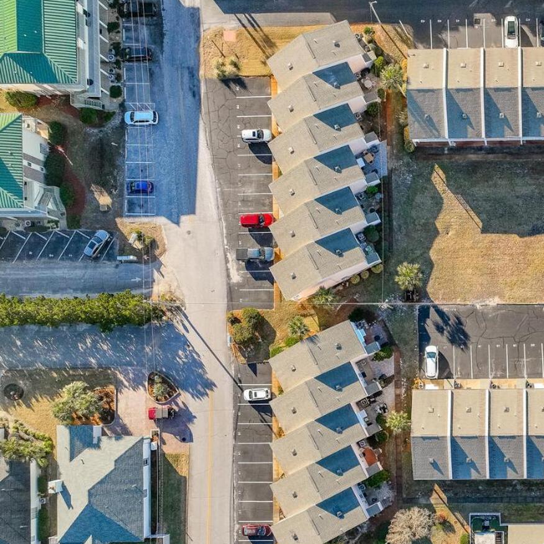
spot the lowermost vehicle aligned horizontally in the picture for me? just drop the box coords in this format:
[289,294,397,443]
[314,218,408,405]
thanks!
[241,523,274,539]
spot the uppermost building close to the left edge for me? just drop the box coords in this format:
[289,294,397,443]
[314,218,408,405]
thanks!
[0,0,109,109]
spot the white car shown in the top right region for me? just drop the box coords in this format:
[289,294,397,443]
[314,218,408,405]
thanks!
[503,16,519,48]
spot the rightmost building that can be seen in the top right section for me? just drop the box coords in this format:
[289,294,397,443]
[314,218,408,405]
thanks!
[405,46,544,152]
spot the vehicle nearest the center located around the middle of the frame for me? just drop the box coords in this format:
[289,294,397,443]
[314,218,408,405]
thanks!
[235,246,275,261]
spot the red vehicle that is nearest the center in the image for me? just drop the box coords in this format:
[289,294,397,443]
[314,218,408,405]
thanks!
[239,212,276,228]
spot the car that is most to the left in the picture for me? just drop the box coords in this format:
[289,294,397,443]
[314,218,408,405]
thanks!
[83,228,112,260]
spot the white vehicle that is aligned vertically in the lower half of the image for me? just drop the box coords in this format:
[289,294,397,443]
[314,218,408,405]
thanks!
[423,345,438,377]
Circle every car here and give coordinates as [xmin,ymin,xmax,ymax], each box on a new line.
[239,212,276,228]
[423,345,438,377]
[120,45,154,62]
[503,16,519,48]
[125,179,155,195]
[240,127,274,143]
[538,16,544,48]
[124,109,160,125]
[241,523,274,539]
[83,228,112,260]
[244,386,271,402]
